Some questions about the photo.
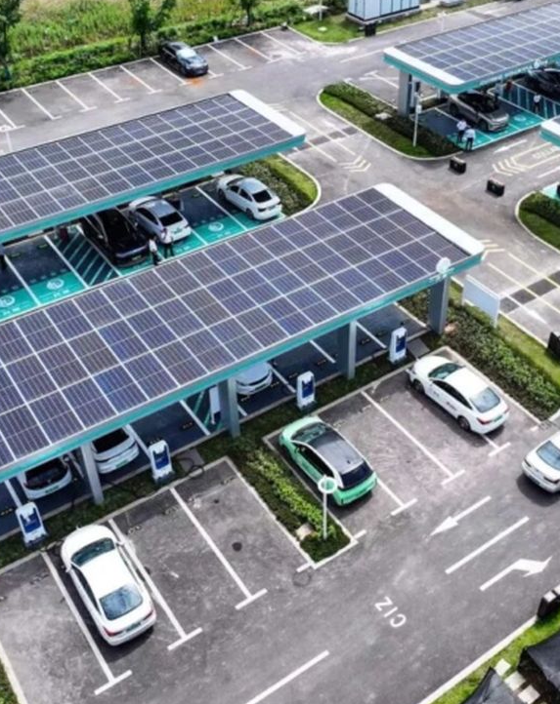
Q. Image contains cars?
Yes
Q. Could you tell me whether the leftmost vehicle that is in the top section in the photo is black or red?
black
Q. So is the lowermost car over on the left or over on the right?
left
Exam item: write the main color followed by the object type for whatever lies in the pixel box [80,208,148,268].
black vehicle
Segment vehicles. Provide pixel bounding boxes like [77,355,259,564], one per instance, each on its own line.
[158,41,208,76]
[284,419,378,509]
[87,429,139,474]
[58,522,156,649]
[132,196,194,245]
[443,89,507,130]
[408,353,511,435]
[523,432,560,497]
[518,69,560,105]
[214,173,281,222]
[234,365,273,396]
[18,459,71,499]
[80,208,148,268]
